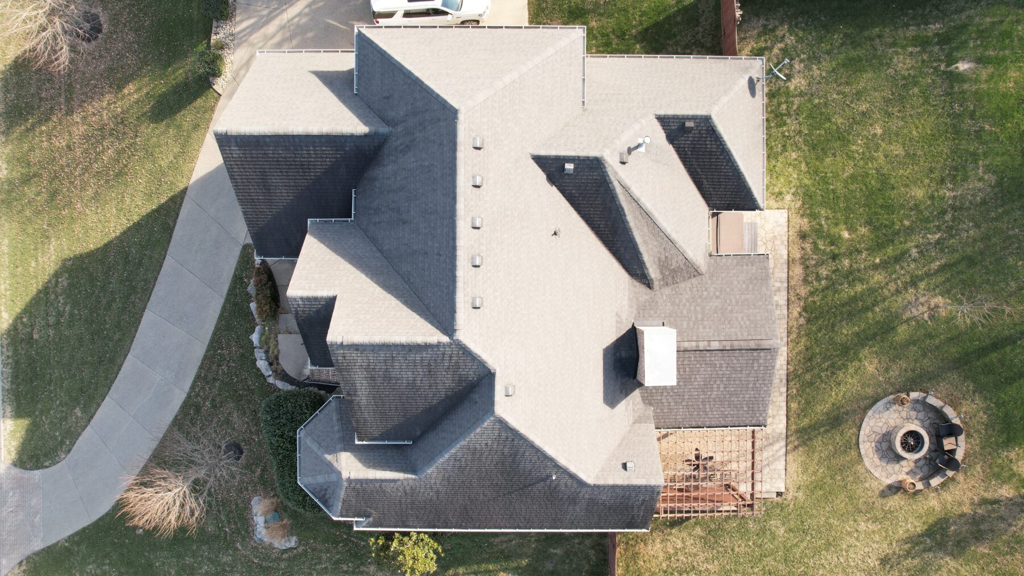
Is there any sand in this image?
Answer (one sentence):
No, no sand is visible.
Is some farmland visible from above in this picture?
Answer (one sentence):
No, there is no farmland in the image.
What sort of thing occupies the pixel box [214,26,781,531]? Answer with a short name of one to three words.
house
